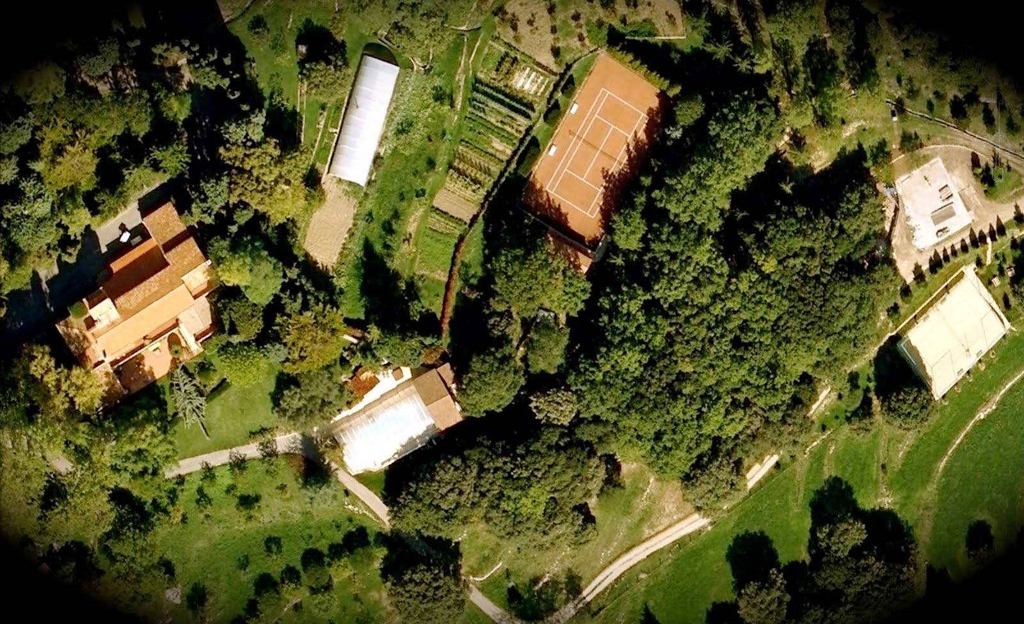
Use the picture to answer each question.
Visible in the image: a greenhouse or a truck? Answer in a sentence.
There is a greenhouse in the scene.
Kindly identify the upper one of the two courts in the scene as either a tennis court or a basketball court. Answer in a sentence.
From above, the upper one of the two courts can be identified as a tennis court.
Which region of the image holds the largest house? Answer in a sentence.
The largest house appears toward the left of the photo.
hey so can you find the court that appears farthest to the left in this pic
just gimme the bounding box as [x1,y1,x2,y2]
[517,48,676,251]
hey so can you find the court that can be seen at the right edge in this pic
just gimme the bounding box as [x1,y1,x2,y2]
[900,263,1012,401]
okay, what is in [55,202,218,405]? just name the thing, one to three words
house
